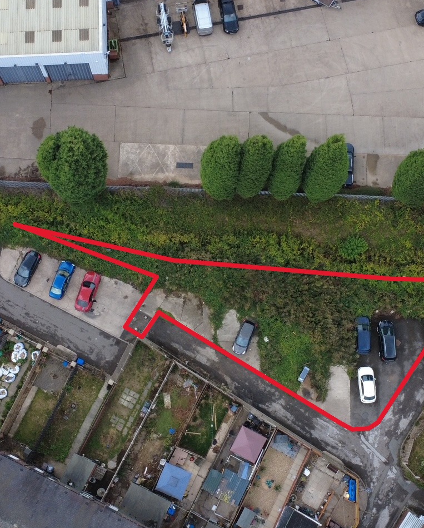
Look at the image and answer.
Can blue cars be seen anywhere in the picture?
Yes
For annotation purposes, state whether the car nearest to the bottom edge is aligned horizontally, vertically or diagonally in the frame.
vertically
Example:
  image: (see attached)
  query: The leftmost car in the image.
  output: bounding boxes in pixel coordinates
[13,248,40,287]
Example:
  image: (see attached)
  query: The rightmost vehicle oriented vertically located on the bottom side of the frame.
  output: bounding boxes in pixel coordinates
[376,319,398,362]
